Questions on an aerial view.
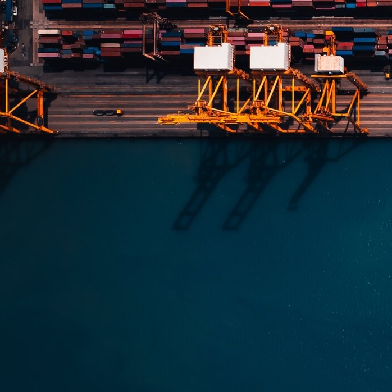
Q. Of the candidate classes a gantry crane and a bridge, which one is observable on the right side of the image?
gantry crane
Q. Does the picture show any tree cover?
No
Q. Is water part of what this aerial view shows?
Yes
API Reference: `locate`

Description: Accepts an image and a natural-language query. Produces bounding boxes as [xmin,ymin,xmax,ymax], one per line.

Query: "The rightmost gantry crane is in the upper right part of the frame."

[301,43,372,134]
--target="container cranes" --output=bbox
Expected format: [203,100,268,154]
[301,43,372,134]
[151,32,267,135]
[140,9,177,66]
[220,31,319,135]
[0,53,59,136]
